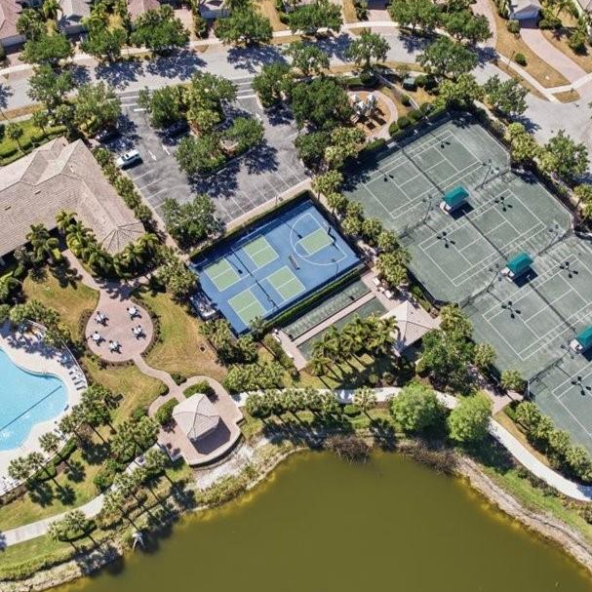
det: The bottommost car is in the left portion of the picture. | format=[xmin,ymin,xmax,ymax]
[119,150,142,167]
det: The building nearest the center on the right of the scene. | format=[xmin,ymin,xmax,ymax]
[378,299,441,354]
